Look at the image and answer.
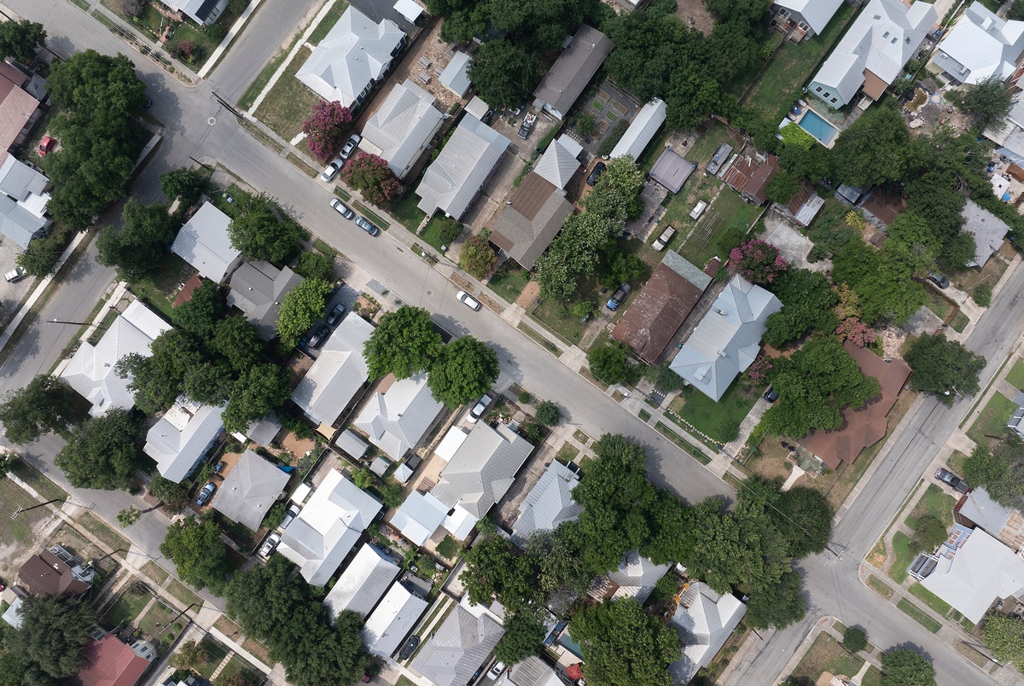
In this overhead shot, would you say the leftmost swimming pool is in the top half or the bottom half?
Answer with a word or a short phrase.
bottom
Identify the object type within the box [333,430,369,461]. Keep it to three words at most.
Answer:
shed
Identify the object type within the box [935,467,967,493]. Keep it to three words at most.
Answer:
truck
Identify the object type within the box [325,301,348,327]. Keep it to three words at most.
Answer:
car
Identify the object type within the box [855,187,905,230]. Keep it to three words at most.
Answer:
barn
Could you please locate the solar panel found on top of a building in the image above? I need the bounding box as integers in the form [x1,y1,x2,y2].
[195,0,218,20]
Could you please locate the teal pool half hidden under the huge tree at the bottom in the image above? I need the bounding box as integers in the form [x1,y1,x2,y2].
[556,633,589,668]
